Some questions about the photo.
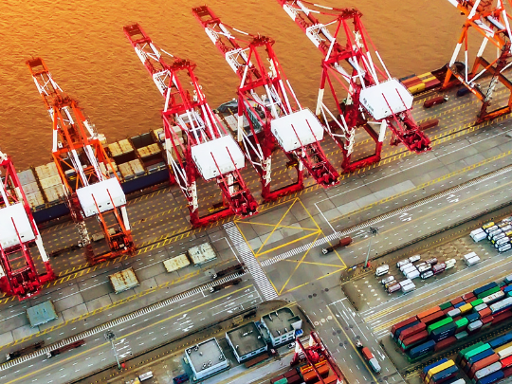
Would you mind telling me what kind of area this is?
port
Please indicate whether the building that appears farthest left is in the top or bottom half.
bottom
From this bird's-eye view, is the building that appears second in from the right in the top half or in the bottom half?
bottom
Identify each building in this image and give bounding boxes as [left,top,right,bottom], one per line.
[185,339,226,382]
[225,322,267,365]
[262,307,302,350]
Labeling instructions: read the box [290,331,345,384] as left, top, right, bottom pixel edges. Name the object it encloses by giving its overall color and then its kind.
red crane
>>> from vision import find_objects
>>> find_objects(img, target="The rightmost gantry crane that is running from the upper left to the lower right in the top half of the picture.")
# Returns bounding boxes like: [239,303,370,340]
[274,0,434,173]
